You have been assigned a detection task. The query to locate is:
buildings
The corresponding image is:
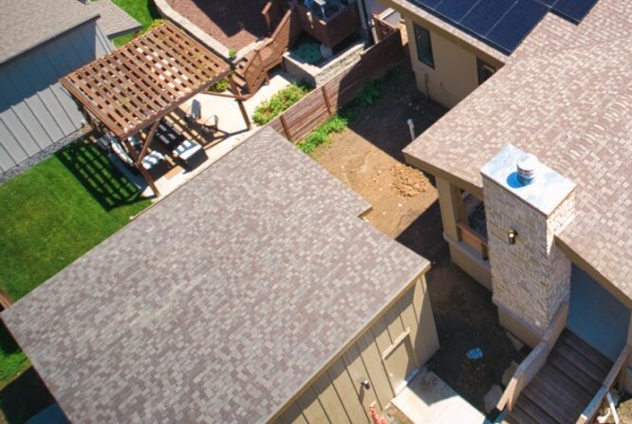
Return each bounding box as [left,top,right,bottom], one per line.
[0,0,160,177]
[0,126,440,424]
[383,0,632,403]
